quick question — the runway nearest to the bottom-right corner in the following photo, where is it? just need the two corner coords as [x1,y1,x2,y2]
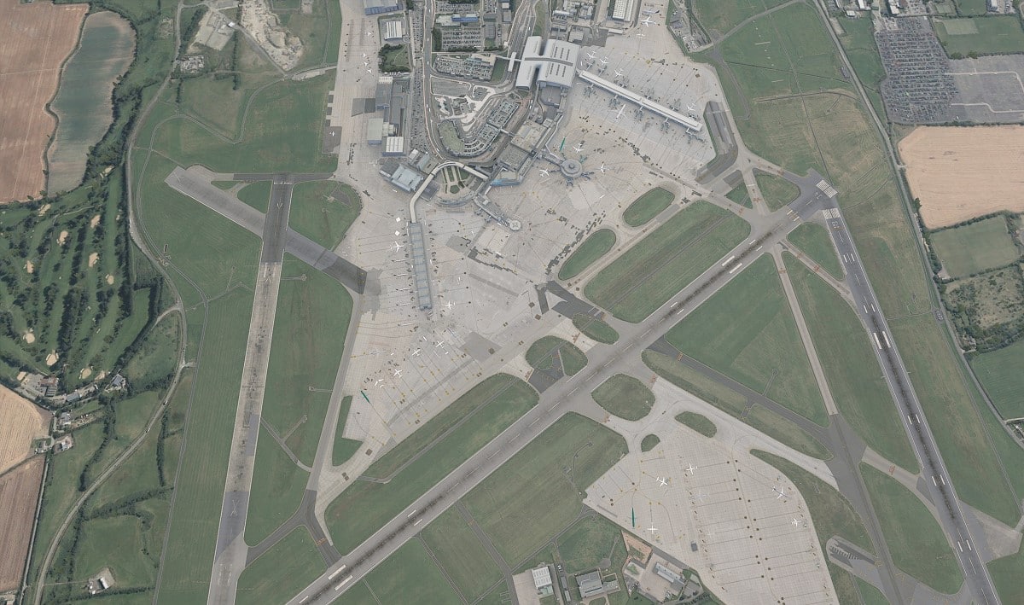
[818,209,1005,605]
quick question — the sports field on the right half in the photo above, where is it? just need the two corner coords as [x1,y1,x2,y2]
[933,15,1024,56]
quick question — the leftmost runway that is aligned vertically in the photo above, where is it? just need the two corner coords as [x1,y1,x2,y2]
[207,176,294,605]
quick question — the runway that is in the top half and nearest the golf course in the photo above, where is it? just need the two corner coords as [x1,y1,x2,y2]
[165,166,366,294]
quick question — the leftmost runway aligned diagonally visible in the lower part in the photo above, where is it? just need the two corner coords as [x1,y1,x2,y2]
[290,183,831,605]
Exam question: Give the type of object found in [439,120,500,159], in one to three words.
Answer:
building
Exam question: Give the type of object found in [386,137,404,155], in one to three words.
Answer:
hangar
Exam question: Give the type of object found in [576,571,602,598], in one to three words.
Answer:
building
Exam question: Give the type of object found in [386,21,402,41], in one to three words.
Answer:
hangar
